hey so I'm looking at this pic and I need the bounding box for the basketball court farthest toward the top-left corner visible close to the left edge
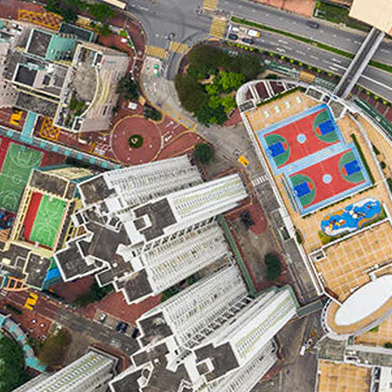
[0,141,44,214]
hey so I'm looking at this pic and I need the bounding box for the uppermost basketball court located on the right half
[260,103,346,175]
